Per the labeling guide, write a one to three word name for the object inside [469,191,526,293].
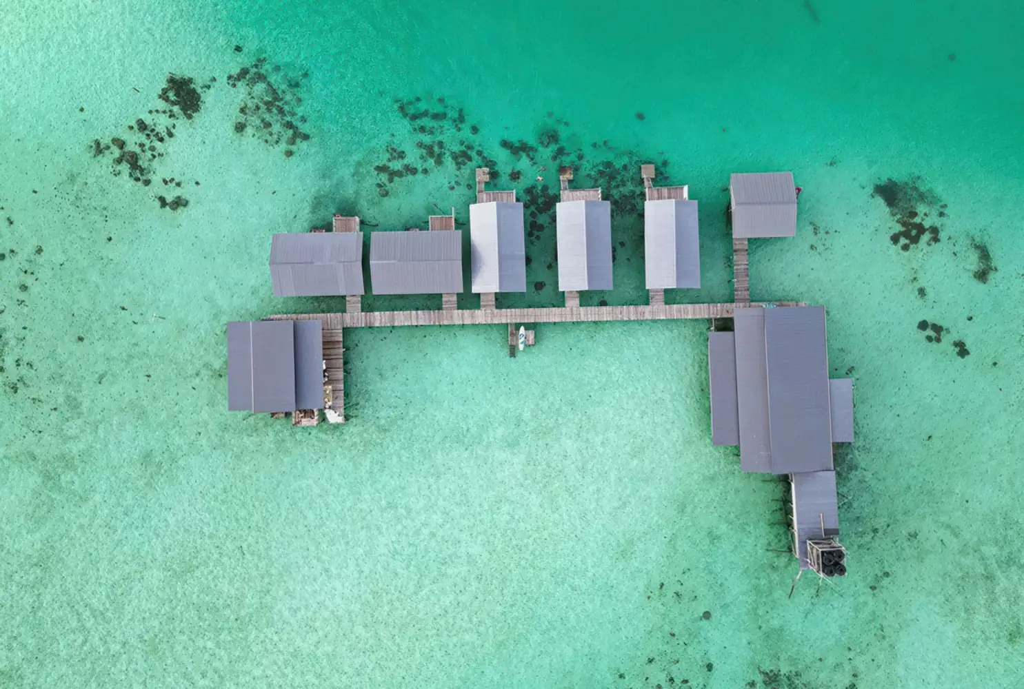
shed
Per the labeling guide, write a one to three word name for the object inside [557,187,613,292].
shed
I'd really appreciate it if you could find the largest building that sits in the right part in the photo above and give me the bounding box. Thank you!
[706,305,854,473]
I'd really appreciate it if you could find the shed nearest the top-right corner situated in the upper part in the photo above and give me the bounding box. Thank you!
[722,172,797,238]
